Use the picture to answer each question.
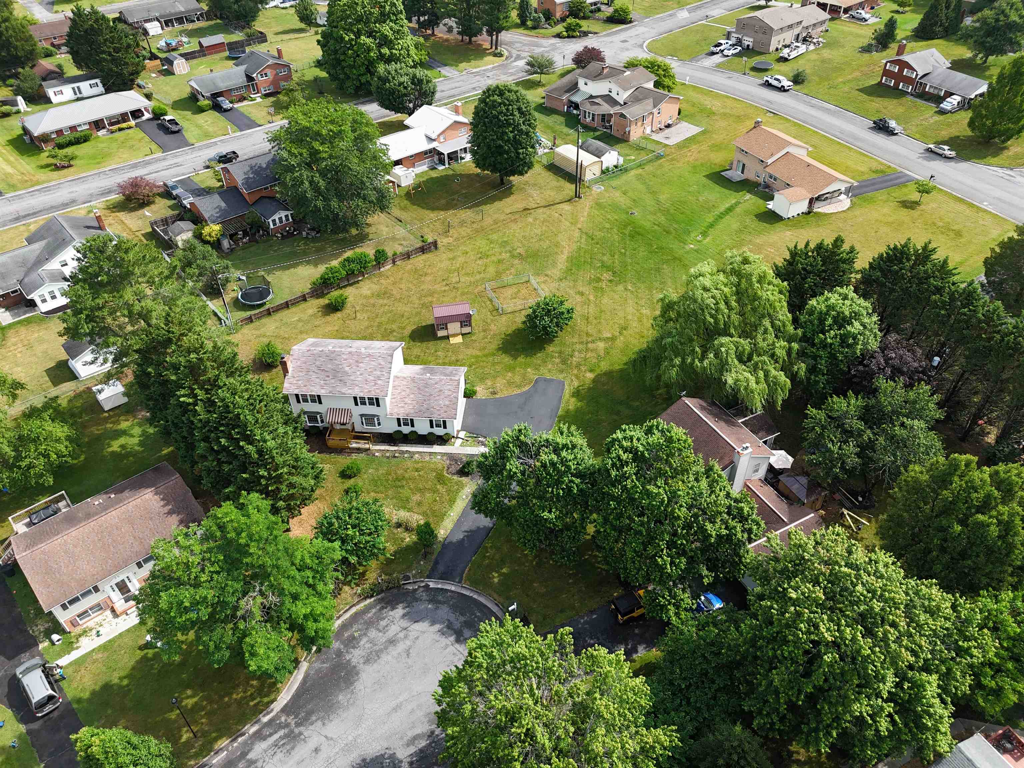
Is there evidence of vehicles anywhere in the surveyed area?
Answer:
Yes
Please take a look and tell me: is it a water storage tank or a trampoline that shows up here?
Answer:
trampoline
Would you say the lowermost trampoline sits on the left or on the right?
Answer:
left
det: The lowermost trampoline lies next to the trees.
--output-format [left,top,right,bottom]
[233,274,272,308]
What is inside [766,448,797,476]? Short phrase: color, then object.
white umbrella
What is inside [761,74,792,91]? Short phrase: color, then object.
white vehicle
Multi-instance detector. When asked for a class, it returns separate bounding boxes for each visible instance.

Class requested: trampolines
[755,60,775,69]
[225,40,247,57]
[233,274,272,308]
